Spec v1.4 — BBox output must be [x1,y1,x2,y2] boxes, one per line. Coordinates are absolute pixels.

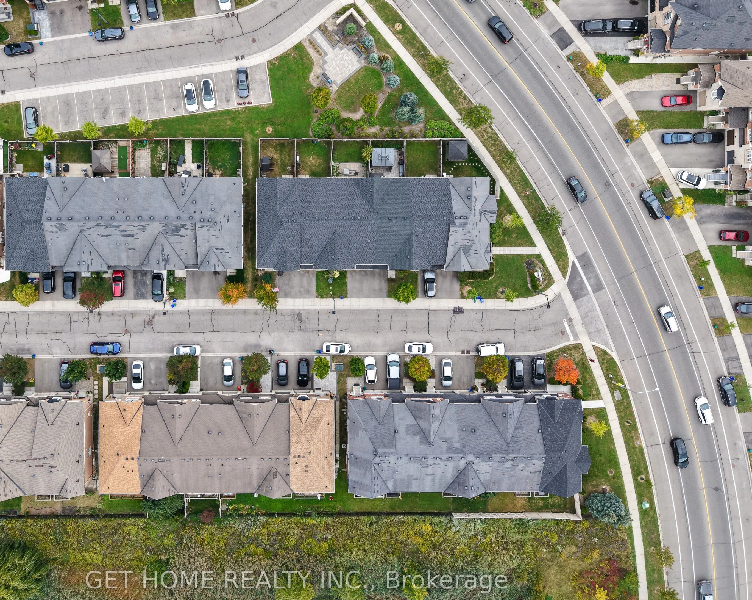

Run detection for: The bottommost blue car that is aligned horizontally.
[90,341,122,357]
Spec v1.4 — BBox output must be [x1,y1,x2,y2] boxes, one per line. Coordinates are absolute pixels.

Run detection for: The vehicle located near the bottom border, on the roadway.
[696,580,715,600]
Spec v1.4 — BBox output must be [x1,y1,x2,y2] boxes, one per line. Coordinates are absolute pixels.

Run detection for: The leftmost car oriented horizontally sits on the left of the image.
[4,41,35,57]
